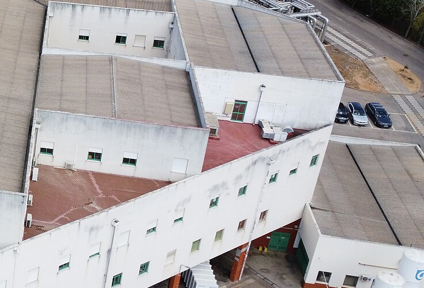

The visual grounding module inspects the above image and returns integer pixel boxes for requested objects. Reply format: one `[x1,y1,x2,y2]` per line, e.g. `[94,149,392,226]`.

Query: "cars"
[348,103,372,125]
[335,102,354,123]
[366,102,396,127]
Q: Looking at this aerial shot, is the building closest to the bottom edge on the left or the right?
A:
right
